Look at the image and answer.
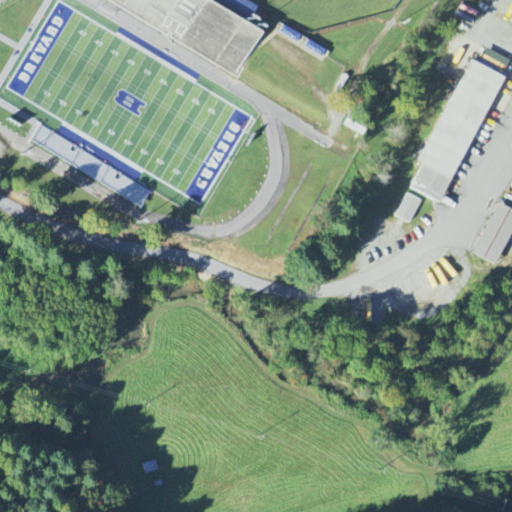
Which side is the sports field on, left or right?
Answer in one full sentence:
The sports field appears in the left half of the scene.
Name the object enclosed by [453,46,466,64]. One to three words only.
vehicle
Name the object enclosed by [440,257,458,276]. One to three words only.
vehicle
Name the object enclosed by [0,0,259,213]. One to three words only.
sports field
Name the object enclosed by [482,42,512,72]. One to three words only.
shed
